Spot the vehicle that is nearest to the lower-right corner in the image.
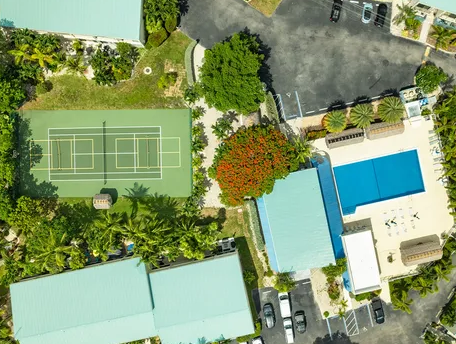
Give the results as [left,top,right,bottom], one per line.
[371,297,386,325]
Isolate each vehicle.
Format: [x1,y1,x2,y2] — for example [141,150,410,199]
[295,310,306,333]
[371,297,386,325]
[263,303,275,329]
[329,0,343,23]
[279,293,291,320]
[374,2,389,28]
[253,336,263,344]
[362,3,373,24]
[284,318,297,344]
